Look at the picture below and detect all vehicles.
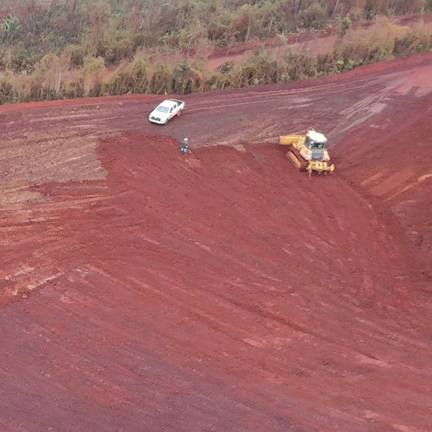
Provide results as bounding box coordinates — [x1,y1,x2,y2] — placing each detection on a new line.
[150,99,188,123]
[279,128,330,172]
